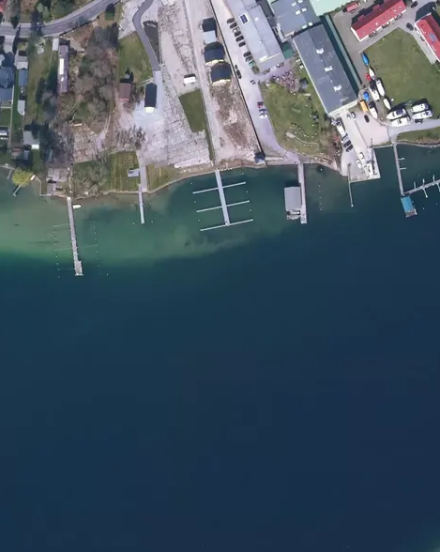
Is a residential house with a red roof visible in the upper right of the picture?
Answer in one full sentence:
Yes, the scene does show a residential house with a red roof in the upper right of the picture.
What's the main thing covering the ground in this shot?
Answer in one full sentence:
The scene is dominated by water.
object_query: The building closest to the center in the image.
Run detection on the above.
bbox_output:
[284,187,302,211]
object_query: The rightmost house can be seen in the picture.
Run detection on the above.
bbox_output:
[415,14,440,59]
